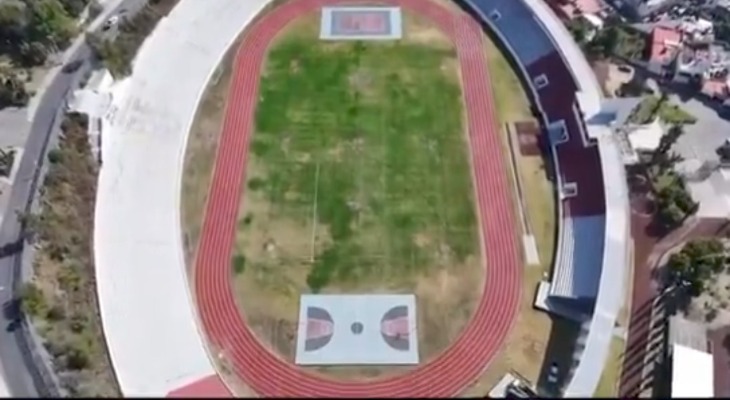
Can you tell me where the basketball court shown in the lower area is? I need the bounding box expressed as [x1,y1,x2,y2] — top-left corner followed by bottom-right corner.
[296,293,418,364]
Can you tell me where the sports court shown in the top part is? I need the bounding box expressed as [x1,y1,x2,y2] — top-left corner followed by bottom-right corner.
[320,6,402,40]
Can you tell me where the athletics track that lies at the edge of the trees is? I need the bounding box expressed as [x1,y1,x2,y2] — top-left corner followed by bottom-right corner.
[195,0,521,400]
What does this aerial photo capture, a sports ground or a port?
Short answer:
sports ground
